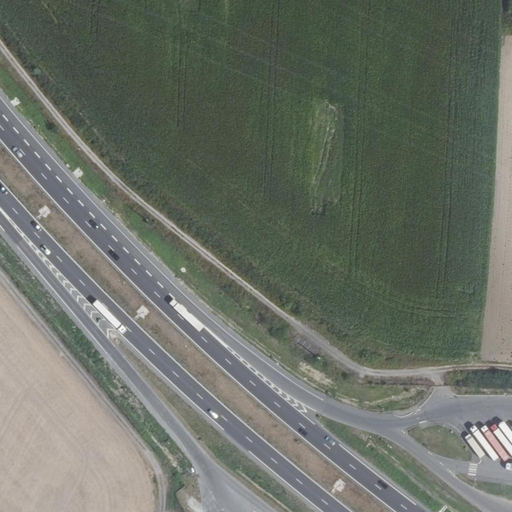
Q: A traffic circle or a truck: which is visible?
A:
truck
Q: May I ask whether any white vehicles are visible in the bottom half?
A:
Yes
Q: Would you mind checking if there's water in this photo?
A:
No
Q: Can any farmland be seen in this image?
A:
Yes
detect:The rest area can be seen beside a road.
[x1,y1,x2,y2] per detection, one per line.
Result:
[338,385,512,512]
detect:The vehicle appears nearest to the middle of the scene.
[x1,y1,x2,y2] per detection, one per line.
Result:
[170,300,203,332]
